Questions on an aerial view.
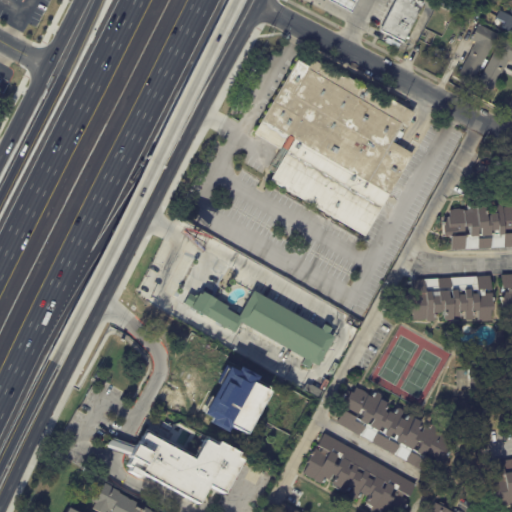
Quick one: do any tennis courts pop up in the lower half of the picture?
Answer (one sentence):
Yes, looking in the lower half of the picture, one can make out a tennis court.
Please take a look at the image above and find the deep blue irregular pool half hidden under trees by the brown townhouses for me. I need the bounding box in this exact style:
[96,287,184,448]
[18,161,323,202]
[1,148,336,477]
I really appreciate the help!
[462,326,496,346]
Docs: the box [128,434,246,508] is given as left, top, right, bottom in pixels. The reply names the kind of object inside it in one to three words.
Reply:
building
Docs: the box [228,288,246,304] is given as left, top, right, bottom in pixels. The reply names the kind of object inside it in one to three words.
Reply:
swimming pool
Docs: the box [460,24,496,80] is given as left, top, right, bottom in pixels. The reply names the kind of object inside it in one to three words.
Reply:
house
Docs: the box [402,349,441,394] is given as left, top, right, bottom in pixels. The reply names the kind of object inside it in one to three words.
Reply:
tennis court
